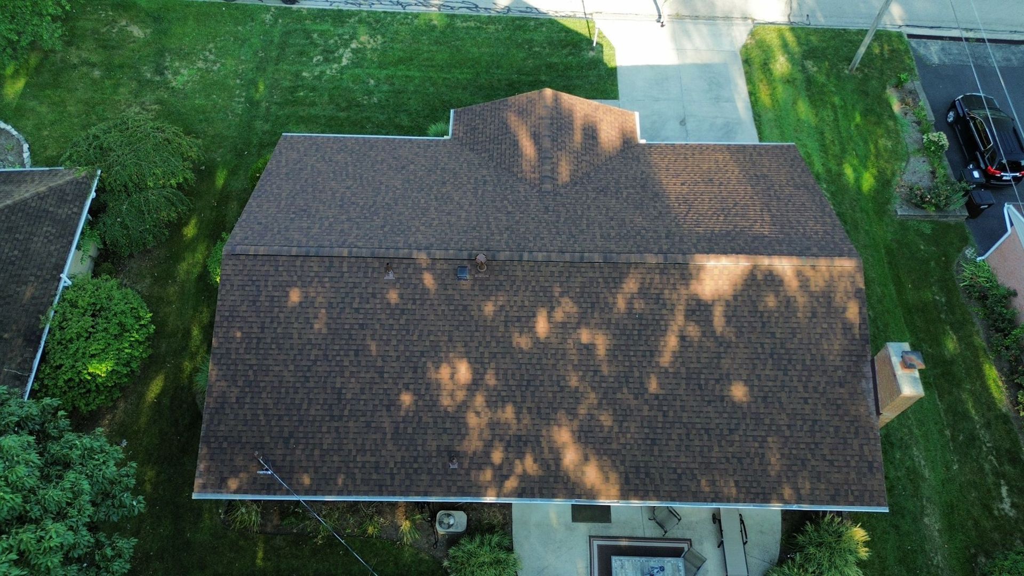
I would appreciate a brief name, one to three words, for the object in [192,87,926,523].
house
